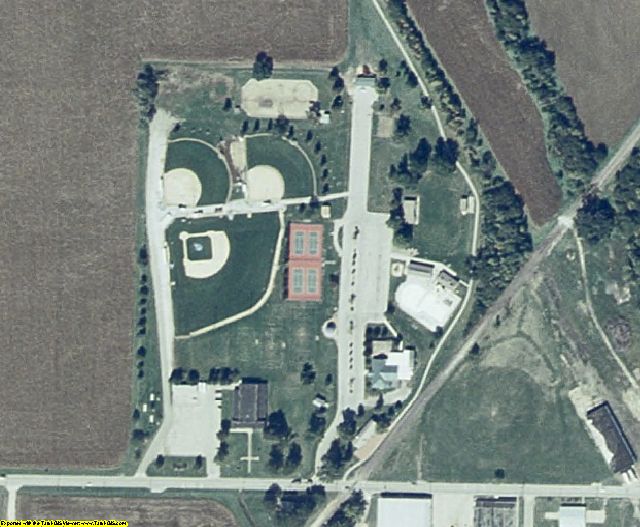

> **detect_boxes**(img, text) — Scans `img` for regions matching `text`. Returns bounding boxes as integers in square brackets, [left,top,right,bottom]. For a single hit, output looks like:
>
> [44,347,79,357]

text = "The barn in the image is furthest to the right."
[586,403,637,473]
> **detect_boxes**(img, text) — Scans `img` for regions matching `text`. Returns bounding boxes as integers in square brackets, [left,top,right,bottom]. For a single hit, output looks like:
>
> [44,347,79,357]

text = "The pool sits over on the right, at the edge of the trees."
[395,263,461,331]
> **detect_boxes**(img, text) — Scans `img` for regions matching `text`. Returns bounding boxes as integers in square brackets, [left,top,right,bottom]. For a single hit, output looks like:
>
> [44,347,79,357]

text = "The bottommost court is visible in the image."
[288,260,322,300]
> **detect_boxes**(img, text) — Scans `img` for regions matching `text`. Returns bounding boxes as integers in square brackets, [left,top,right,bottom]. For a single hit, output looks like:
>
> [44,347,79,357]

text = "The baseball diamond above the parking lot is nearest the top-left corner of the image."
[163,138,233,206]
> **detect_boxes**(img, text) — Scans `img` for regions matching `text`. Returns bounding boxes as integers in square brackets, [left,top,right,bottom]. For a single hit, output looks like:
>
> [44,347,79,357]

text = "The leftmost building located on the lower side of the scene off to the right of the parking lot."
[232,383,268,428]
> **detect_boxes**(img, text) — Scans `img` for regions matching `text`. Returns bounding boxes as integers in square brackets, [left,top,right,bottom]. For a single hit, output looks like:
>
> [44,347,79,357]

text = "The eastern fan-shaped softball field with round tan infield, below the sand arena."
[231,133,317,202]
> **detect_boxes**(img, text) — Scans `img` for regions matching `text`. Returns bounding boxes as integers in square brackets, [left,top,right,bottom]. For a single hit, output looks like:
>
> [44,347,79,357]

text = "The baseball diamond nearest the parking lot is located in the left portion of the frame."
[168,206,285,338]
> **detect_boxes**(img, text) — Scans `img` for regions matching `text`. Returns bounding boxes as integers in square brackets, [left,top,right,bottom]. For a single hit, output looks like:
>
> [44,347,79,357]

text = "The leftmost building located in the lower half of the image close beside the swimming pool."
[372,341,414,390]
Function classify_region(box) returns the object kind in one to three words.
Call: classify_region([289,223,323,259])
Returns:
tennis court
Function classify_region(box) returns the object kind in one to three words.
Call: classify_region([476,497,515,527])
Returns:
building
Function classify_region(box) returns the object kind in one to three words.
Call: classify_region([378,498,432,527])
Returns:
building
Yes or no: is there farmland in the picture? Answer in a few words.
Yes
